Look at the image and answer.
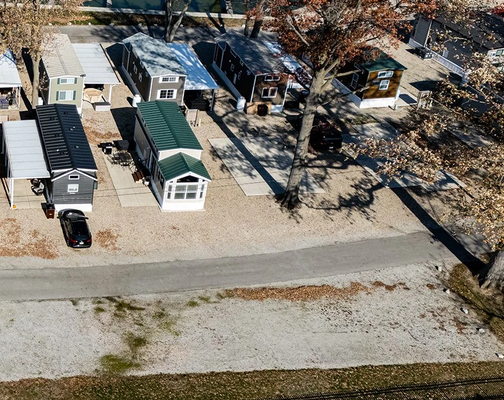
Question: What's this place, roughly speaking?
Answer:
residential area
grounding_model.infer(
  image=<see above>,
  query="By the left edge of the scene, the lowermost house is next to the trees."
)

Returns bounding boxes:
[2,101,99,210]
